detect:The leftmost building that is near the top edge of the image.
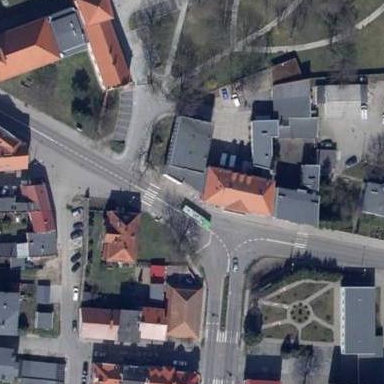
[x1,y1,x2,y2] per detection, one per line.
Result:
[0,18,62,82]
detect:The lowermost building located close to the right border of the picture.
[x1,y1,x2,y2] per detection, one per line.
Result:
[337,288,384,358]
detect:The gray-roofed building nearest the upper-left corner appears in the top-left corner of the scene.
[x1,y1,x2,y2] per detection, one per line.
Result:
[46,8,88,59]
